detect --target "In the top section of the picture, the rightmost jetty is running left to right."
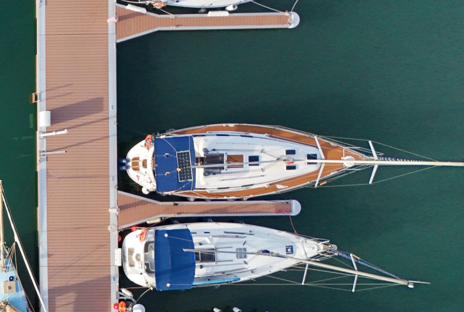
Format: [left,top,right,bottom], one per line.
[116,4,300,42]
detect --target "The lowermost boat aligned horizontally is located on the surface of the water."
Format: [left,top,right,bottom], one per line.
[121,222,430,292]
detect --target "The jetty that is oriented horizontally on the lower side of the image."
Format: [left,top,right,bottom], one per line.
[118,191,301,230]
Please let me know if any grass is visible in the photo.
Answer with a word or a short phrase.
No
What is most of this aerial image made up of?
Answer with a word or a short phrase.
water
